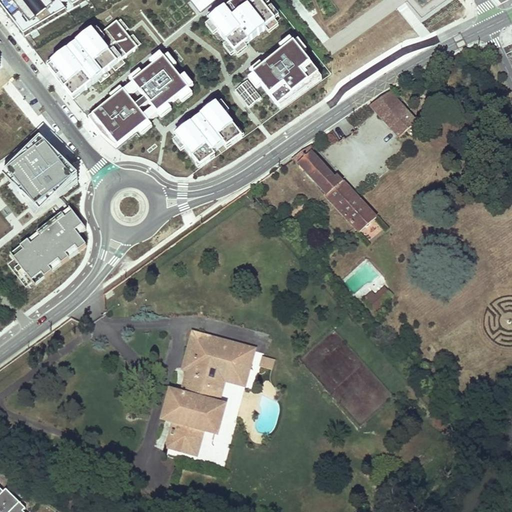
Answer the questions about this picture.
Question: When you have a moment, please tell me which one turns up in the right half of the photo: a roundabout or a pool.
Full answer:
There is a pool in the right half of the photo.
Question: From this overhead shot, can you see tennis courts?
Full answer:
Yes, the photo shows a tennis court.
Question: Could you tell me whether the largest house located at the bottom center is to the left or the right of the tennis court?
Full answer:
From the viewer's perspective, the largest house located at the bottom center falls to the left of the tennis court.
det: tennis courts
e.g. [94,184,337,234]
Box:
[302,330,391,424]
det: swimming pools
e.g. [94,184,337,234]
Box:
[239,380,282,444]
[344,258,386,300]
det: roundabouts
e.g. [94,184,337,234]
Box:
[92,168,180,246]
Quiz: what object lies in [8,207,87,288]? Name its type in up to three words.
building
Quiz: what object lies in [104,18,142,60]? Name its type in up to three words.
house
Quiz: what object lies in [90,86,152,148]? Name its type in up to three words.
house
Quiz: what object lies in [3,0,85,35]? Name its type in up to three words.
building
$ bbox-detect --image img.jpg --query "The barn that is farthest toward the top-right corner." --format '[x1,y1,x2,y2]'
[370,91,415,141]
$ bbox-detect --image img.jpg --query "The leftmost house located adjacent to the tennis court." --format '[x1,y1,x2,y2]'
[160,329,264,467]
